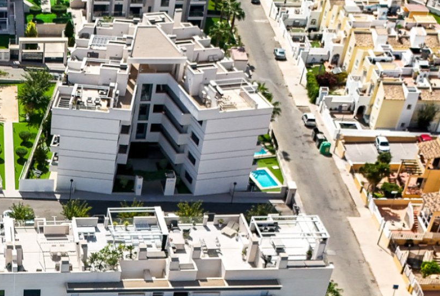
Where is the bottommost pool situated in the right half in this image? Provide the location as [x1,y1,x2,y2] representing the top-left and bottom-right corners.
[255,167,281,186]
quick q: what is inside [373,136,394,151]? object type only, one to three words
car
